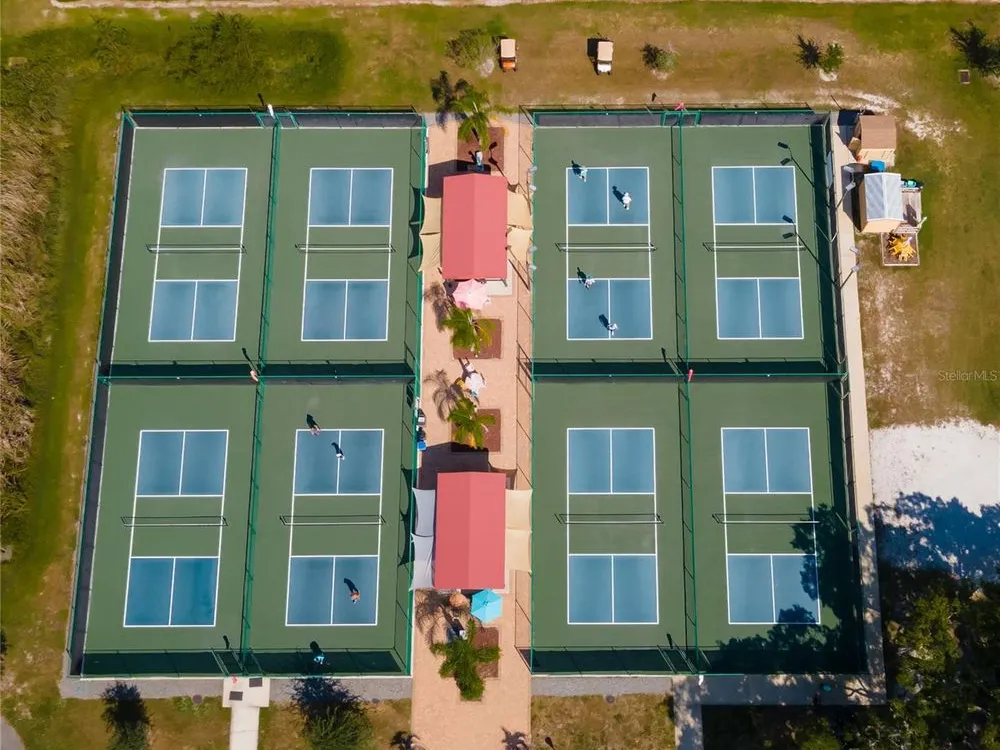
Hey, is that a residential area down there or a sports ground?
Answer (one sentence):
The picture captures a sports ground.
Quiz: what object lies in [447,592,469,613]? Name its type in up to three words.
umbrella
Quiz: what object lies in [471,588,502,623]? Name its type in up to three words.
umbrella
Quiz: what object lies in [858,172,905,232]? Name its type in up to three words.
shed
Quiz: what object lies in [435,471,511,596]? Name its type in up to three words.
building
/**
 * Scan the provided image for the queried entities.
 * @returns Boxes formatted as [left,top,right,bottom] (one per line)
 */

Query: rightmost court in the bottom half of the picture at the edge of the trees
[688,383,867,674]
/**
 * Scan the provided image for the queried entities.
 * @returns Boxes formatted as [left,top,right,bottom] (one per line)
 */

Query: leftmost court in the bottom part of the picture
[84,384,264,677]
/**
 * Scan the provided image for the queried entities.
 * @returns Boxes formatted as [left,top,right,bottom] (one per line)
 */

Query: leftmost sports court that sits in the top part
[111,126,279,381]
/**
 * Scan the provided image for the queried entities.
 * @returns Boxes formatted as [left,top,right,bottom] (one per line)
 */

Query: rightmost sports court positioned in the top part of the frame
[680,124,847,380]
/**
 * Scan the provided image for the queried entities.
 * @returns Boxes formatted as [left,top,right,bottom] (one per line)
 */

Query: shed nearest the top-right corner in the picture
[846,116,899,160]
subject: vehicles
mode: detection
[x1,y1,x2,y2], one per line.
[596,41,615,76]
[499,38,518,74]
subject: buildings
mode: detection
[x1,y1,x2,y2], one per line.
[858,172,905,232]
[435,471,511,596]
[441,174,513,295]
[846,116,899,160]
